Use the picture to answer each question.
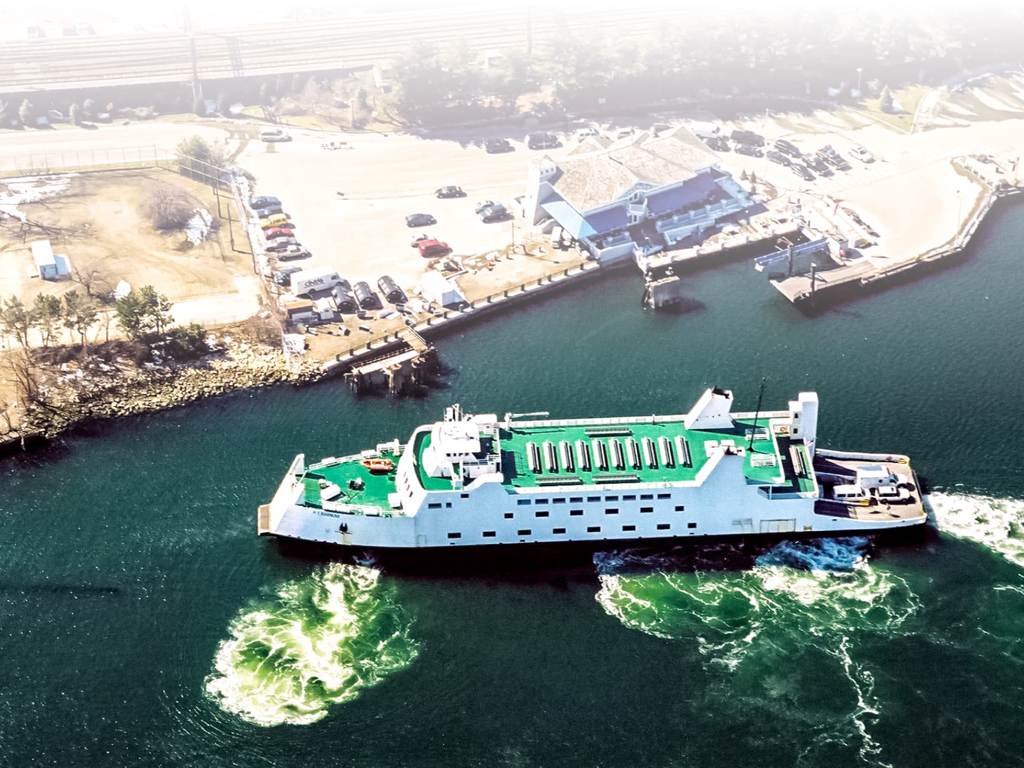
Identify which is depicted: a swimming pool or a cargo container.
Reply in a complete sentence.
It is a cargo container that can be seen here.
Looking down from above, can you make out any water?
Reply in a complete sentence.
Yes, some water is visible.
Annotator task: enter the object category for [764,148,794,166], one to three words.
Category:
car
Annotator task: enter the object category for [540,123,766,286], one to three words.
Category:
building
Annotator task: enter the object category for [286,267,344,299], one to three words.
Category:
truck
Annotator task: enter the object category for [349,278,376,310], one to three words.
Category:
shed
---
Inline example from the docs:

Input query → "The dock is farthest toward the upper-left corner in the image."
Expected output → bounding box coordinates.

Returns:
[342,330,438,389]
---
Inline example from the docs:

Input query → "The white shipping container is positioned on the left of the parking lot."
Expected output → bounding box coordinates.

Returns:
[32,239,57,279]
